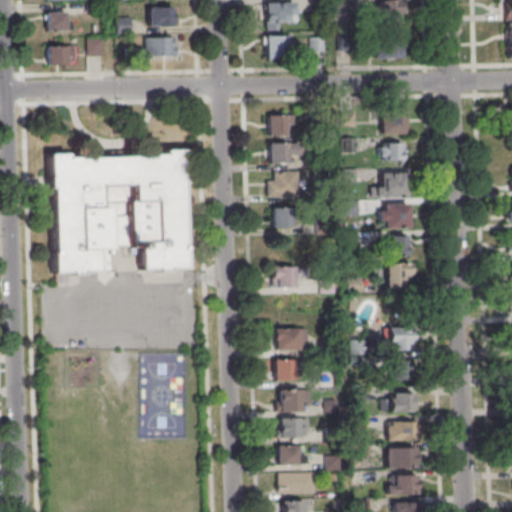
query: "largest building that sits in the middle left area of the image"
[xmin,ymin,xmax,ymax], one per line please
[54,149,194,275]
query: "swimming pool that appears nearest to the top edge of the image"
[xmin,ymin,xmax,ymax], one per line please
[356,299,378,327]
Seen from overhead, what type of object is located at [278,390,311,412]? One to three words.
house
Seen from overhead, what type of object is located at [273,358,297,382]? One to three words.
house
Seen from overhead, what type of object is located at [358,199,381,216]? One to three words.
building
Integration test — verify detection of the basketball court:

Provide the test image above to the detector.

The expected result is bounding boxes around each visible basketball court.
[139,353,186,438]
